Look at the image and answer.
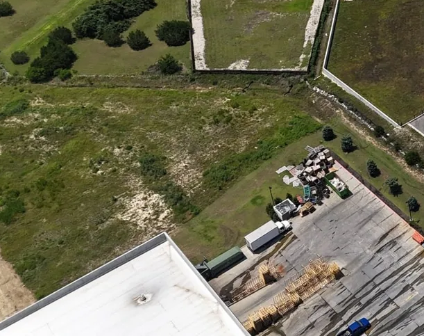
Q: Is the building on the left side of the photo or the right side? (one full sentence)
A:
The building appears in the left half of the scene.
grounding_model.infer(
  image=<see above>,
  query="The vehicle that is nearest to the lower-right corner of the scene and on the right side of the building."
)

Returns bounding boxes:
[339,314,373,336]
